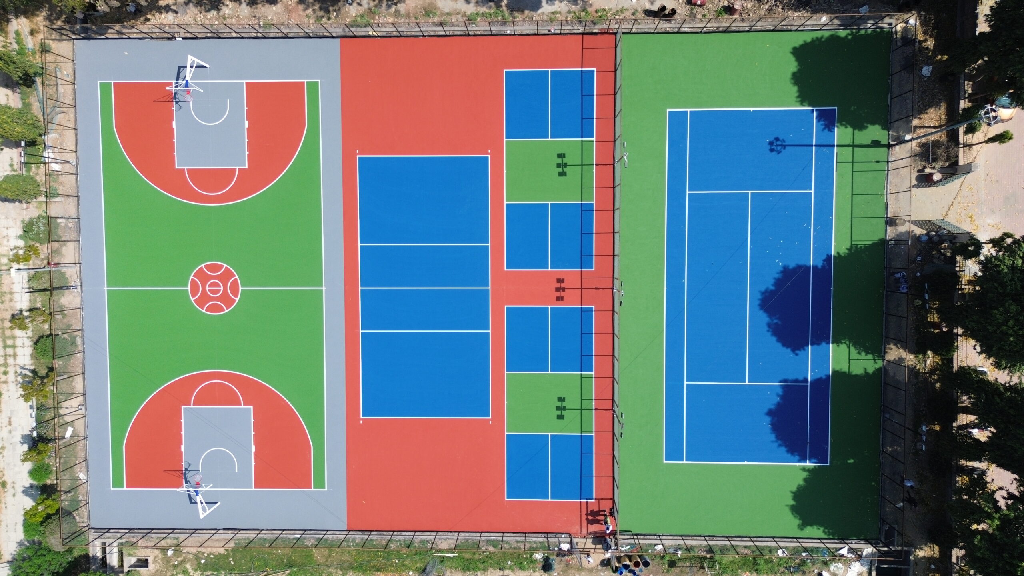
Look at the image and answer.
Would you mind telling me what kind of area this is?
sports ground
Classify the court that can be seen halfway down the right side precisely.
tennis court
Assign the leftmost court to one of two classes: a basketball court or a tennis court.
basketball court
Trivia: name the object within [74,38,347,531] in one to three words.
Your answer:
basketball court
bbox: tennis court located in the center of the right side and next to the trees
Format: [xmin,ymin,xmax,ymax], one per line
[612,32,892,536]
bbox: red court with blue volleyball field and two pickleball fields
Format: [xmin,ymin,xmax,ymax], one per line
[340,35,614,533]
